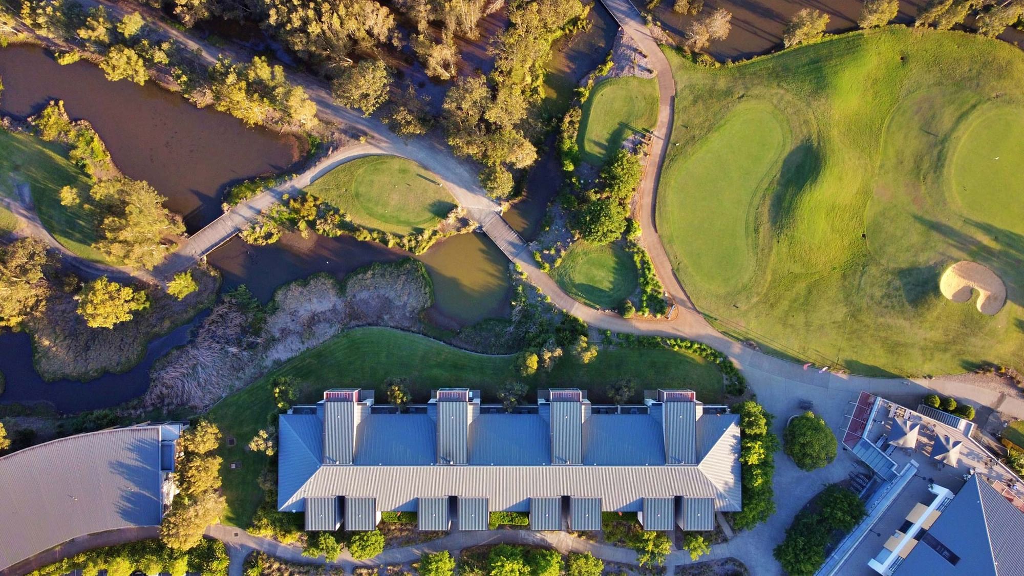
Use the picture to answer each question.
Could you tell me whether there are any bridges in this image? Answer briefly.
Yes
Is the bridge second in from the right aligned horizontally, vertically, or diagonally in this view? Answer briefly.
diagonally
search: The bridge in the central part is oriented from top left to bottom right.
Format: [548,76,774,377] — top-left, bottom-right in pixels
[479,208,530,264]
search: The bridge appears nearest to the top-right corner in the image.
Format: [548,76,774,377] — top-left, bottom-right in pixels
[599,0,645,28]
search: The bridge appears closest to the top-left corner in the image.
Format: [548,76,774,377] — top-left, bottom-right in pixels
[183,209,245,260]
